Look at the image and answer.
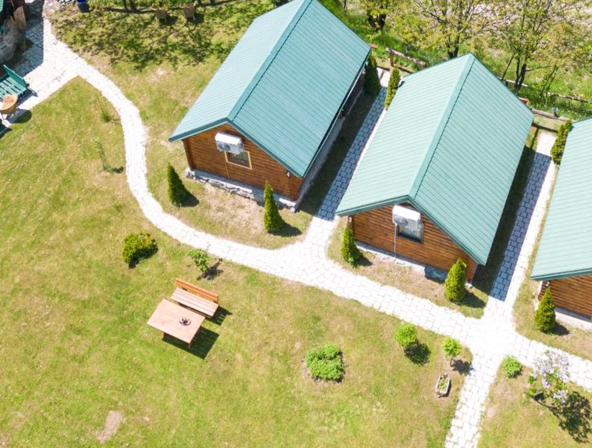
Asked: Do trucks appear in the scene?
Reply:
No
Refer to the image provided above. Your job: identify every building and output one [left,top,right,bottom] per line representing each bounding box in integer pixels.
[333,52,535,290]
[529,117,592,338]
[167,0,373,218]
